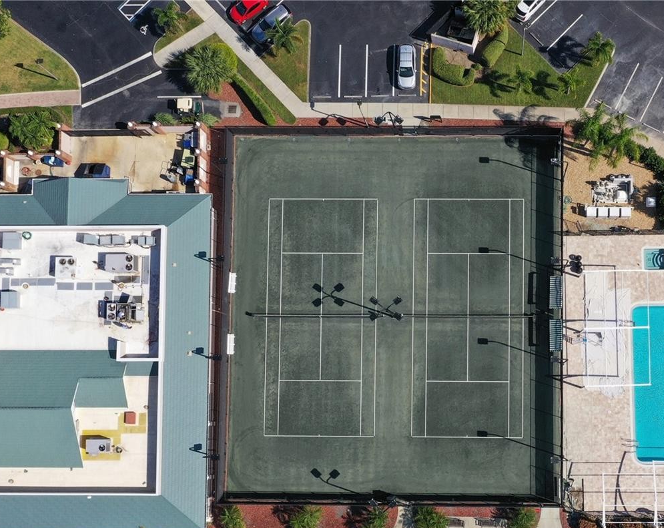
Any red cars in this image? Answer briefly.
Yes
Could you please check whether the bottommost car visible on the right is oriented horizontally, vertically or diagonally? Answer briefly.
vertically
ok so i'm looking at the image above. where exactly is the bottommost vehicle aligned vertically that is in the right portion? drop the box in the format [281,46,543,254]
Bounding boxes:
[395,46,417,94]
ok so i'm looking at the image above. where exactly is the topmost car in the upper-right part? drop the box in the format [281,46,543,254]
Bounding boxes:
[514,0,555,26]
